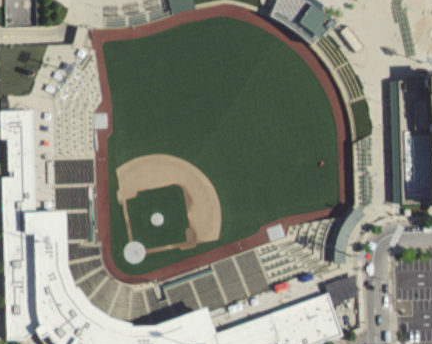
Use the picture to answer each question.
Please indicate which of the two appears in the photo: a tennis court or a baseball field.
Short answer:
baseball field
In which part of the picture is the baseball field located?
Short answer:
center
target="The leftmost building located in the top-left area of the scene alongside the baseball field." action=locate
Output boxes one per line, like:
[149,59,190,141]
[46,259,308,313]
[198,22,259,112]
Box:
[68,28,88,50]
